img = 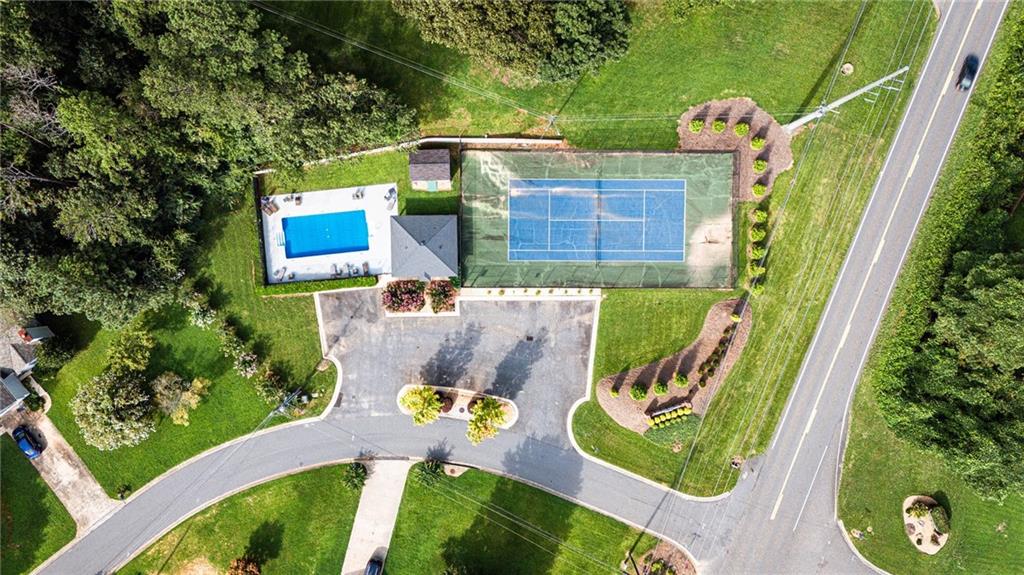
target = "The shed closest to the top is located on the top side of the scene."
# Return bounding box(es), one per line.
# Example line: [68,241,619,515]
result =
[408,149,451,191]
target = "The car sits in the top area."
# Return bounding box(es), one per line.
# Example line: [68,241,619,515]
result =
[952,53,979,92]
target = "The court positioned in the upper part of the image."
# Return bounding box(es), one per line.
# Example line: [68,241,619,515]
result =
[461,152,732,288]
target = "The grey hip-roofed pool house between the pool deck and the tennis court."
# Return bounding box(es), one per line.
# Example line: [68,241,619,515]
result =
[391,215,458,281]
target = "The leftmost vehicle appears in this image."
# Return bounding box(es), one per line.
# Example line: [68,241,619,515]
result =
[13,425,41,460]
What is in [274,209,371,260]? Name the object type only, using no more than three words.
swimming pool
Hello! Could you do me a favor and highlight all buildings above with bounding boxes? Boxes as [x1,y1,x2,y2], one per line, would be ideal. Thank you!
[408,149,451,191]
[0,312,67,414]
[391,215,458,281]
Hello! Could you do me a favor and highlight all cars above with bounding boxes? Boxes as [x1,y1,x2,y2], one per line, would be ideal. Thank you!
[952,53,979,92]
[13,425,41,460]
[365,559,382,575]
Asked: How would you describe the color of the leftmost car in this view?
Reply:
blue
